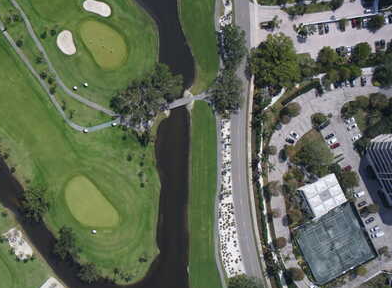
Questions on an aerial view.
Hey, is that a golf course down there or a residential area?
golf course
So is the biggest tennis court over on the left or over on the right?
right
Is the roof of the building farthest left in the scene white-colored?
Yes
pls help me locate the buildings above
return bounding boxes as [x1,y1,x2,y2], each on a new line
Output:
[367,135,392,196]
[296,172,347,217]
